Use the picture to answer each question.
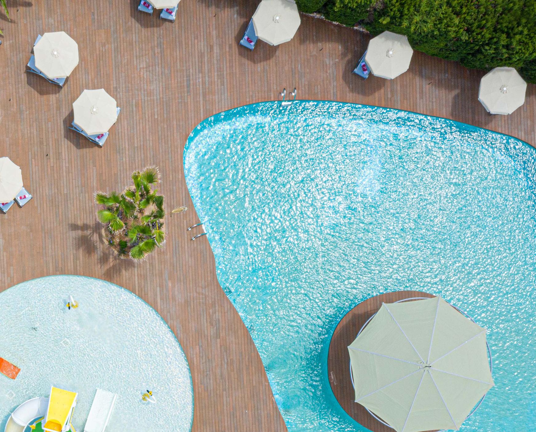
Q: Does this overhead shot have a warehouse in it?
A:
No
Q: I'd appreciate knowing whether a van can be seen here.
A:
No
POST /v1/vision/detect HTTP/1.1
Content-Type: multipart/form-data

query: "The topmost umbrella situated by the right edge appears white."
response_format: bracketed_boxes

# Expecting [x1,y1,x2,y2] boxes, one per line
[478,67,526,116]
